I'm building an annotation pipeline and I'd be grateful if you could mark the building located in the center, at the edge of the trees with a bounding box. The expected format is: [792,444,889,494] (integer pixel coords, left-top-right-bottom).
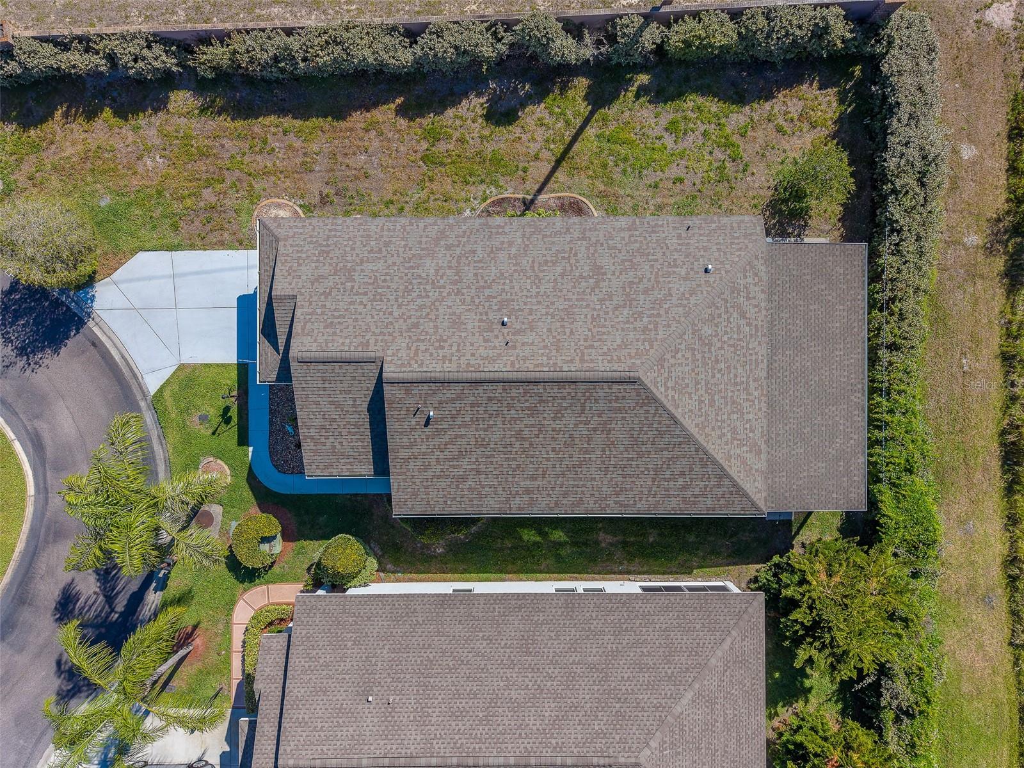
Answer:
[257,214,868,517]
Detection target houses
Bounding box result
[257,214,868,517]
[236,582,767,768]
